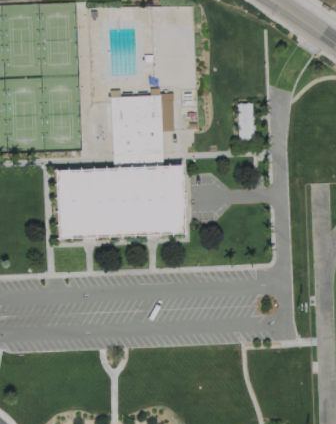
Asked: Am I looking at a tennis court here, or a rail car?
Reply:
tennis court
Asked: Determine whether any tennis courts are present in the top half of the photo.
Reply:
Yes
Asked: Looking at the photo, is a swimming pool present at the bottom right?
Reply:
No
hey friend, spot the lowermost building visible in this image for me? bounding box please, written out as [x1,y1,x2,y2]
[54,164,186,242]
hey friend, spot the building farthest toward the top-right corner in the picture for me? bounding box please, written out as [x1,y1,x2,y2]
[238,103,255,140]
